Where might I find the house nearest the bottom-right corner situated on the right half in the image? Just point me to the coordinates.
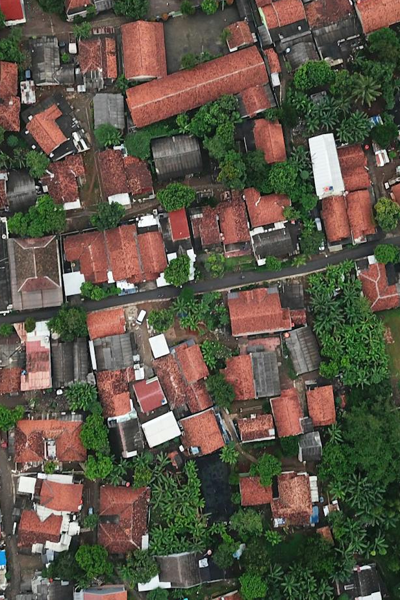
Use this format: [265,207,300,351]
[355,566,382,597]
